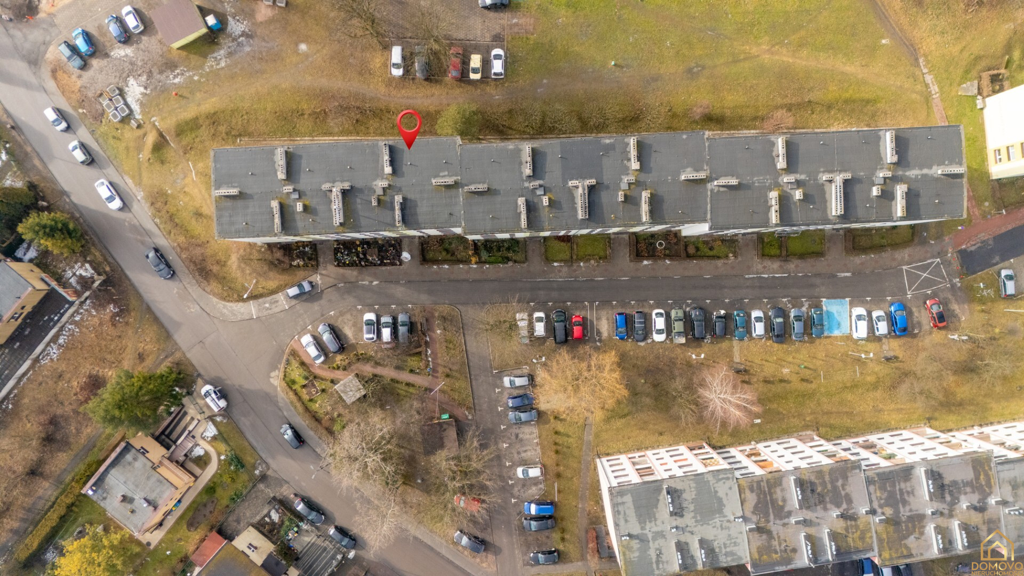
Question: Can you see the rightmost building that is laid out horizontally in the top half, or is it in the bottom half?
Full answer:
The rightmost building that is laid out horizontally sits in the bottom half of the picture.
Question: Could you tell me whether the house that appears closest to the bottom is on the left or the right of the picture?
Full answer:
The house that appears closest to the bottom is on the left side of the image.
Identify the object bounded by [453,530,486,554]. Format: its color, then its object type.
gray car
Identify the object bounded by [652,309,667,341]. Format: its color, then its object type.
white car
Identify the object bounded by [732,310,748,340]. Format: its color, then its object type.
blue car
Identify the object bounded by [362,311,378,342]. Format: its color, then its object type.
white car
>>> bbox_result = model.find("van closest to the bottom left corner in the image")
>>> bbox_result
[200,383,229,415]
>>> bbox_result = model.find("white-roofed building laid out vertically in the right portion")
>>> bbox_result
[982,84,1024,179]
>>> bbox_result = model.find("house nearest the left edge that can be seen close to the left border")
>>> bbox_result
[0,260,53,335]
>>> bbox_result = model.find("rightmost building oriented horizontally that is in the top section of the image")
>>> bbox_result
[212,125,966,248]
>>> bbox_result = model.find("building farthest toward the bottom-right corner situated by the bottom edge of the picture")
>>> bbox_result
[595,421,1024,576]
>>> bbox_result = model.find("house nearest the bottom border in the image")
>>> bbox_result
[192,519,305,576]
